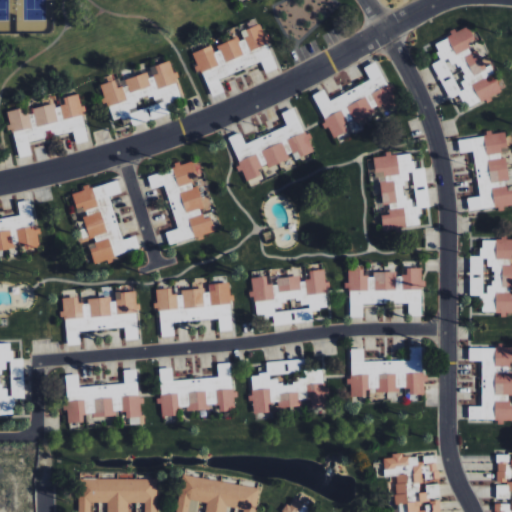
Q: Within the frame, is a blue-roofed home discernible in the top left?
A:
No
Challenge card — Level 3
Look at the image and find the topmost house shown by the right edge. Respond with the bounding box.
[424,27,504,109]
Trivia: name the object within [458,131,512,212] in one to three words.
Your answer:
house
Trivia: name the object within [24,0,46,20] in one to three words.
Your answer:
tennis court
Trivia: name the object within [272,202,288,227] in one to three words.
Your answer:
swimming pool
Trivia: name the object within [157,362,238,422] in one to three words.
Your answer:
house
